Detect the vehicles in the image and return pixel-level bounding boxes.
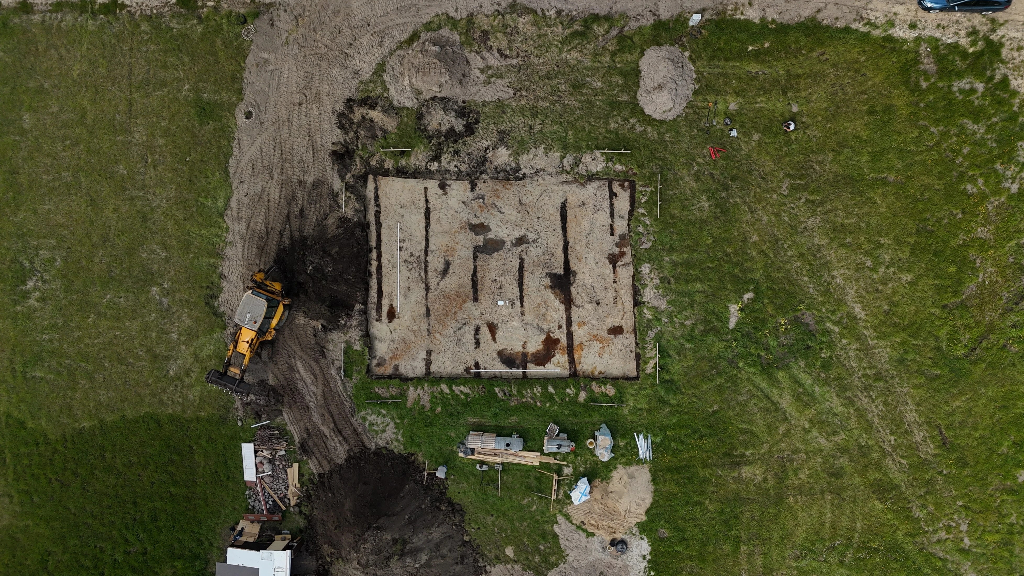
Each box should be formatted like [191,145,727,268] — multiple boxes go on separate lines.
[207,265,299,403]
[915,0,1018,14]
